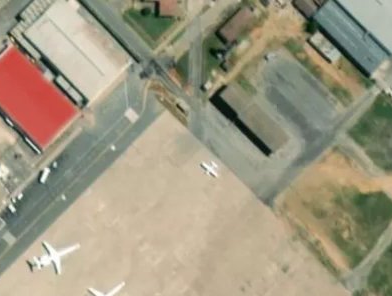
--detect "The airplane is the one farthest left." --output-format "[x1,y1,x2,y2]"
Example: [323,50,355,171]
[32,240,81,276]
